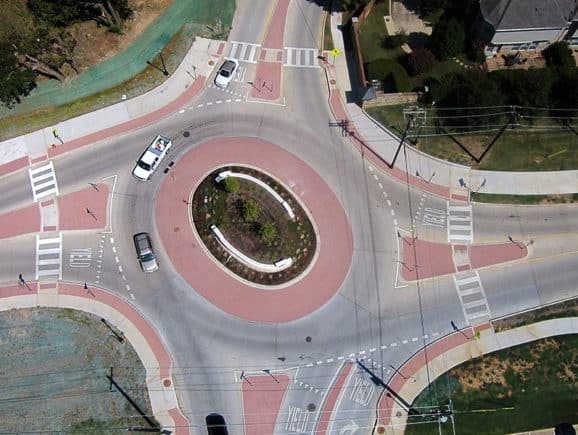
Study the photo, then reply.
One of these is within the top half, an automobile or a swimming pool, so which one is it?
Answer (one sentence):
Visible within the top half is an automobile.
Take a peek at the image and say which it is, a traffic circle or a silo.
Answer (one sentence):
I can see a traffic circle in this picture.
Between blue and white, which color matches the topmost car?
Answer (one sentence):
The color of the topmost car is white.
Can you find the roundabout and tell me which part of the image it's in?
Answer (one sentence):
You can find the roundabout in the center area of the picture.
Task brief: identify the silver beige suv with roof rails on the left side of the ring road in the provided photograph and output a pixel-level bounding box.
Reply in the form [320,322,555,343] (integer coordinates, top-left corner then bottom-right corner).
[131,230,161,274]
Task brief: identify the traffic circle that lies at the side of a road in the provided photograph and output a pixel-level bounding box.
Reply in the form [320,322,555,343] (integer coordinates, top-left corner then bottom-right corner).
[107,98,402,376]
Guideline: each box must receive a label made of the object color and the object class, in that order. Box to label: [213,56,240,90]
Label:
white car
